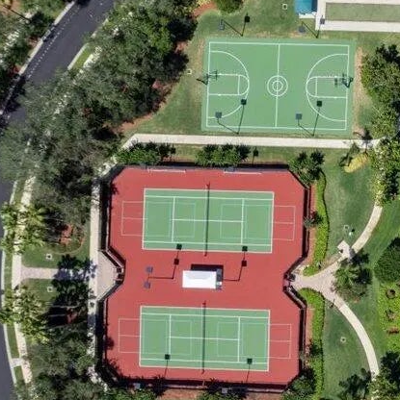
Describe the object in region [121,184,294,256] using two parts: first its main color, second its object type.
green tennis court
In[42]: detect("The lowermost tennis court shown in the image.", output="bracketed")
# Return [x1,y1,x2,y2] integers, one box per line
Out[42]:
[119,303,290,374]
